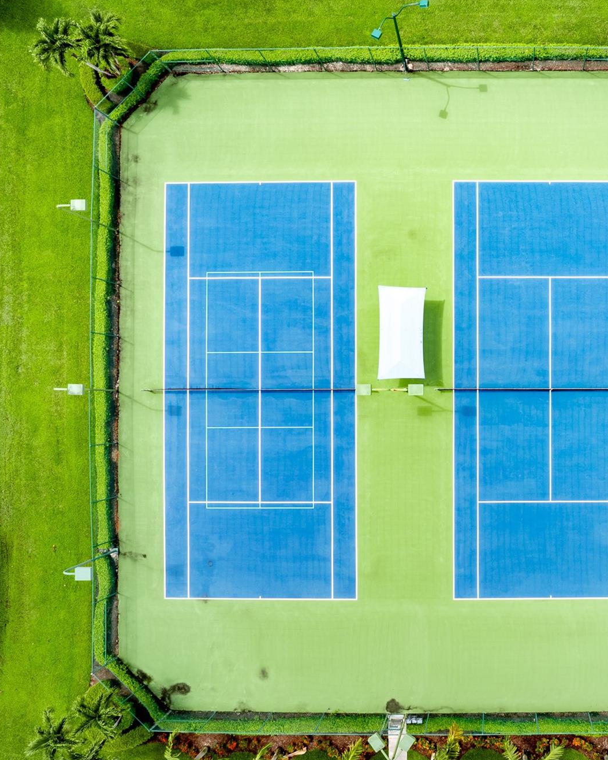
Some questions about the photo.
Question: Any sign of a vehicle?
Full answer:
No, I can see no vehicle in this picture.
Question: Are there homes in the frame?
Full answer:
No, this view has no home in it.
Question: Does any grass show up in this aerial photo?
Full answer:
Yes, there is grass in the image.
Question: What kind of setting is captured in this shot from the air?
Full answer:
The area seen from above is a sports ground.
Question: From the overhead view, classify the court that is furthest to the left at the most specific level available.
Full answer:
It looks like the court that is furthest to the left is a tennis court.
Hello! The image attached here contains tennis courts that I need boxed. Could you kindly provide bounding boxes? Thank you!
[453,181,608,599]
[164,182,356,600]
